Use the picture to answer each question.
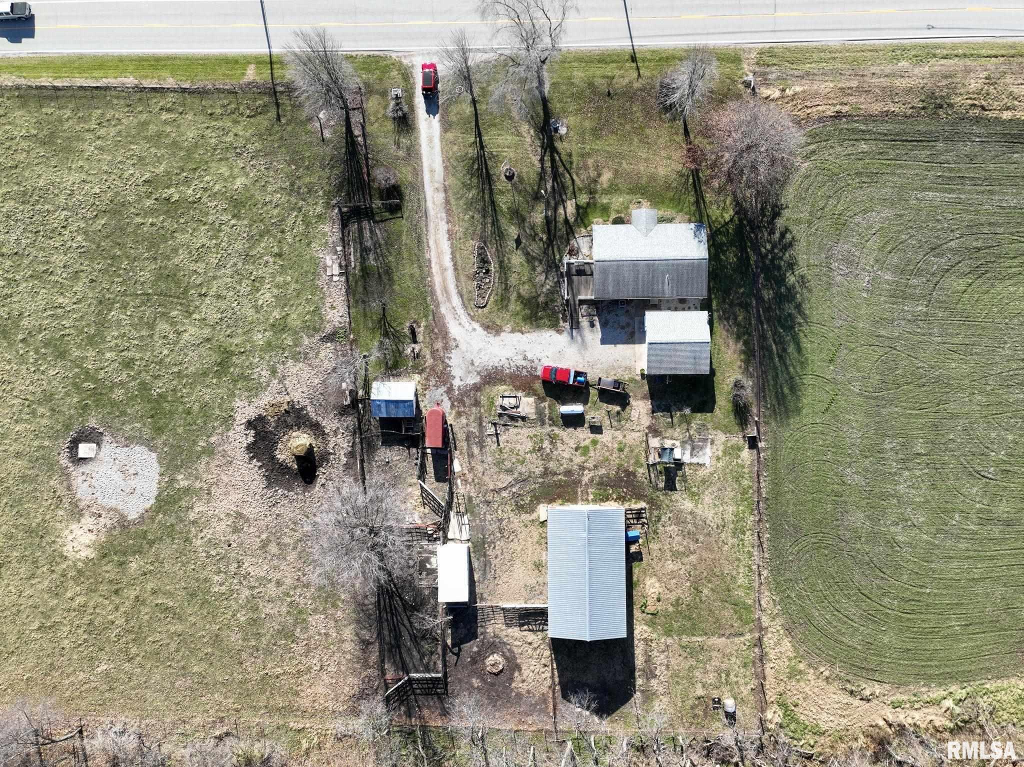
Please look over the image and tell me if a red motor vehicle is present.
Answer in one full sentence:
Yes, a red motor vehicle appears in the view.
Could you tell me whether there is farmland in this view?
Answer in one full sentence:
Yes, the picture does contain farmland.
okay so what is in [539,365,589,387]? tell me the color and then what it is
red truck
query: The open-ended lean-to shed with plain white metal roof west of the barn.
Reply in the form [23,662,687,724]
[438,542,471,604]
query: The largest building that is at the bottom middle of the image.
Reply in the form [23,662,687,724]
[546,506,627,642]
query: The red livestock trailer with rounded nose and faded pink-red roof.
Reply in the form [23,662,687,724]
[426,400,447,447]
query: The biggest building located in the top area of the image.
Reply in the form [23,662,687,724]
[592,206,712,300]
